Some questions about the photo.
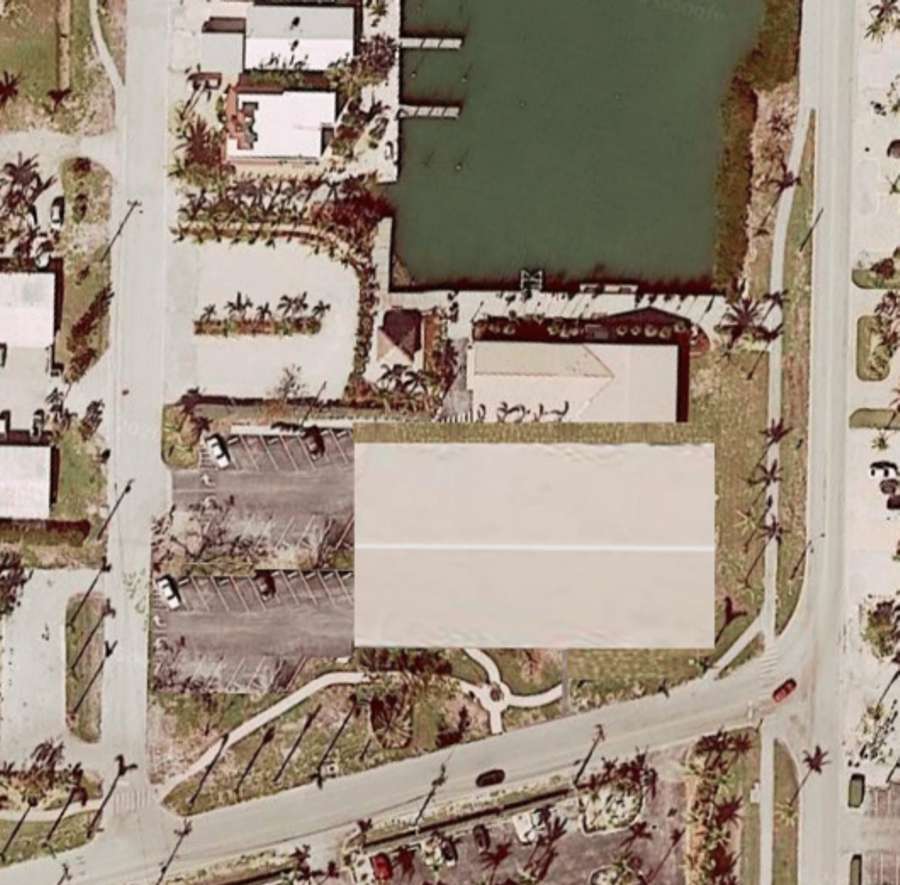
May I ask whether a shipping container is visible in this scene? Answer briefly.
No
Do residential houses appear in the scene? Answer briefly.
Yes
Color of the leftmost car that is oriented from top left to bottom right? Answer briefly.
white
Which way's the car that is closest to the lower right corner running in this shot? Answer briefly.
at an angle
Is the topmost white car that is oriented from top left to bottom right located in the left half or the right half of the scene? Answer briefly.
left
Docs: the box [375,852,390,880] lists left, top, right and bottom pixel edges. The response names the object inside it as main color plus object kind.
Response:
red car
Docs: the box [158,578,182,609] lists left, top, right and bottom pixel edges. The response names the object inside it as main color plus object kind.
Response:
white car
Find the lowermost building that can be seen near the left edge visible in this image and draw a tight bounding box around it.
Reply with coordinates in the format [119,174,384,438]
[0,446,50,518]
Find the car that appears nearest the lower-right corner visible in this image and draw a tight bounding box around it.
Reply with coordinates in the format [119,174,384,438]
[773,678,797,702]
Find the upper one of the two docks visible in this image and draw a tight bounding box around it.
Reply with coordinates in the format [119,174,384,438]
[402,37,461,50]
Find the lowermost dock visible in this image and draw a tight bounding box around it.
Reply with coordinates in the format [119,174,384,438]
[401,105,459,119]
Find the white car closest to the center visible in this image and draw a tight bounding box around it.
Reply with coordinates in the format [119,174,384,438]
[206,438,230,468]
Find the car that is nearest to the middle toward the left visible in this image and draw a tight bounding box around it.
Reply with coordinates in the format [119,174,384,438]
[306,429,325,457]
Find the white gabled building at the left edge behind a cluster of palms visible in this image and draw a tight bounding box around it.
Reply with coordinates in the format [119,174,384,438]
[0,272,54,350]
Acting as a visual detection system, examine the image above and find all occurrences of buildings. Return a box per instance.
[200,33,243,72]
[468,341,679,421]
[355,442,715,649]
[377,326,413,362]
[244,5,355,69]
[0,272,54,350]
[0,446,50,518]
[226,88,336,165]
